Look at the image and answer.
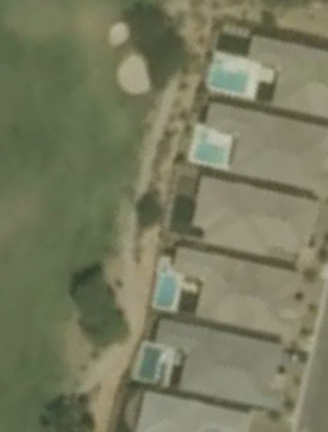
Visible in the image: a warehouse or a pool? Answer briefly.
pool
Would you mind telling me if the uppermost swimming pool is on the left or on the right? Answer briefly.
right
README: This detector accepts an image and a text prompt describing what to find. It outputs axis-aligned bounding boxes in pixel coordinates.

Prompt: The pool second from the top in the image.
[189,124,232,169]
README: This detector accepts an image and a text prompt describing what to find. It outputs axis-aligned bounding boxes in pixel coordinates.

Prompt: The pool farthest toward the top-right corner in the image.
[206,50,275,102]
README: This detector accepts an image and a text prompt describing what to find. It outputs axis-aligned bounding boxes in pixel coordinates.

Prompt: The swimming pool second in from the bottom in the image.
[153,257,198,314]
